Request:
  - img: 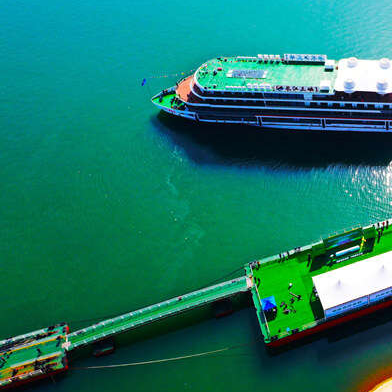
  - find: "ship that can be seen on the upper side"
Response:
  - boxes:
[143,52,392,133]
